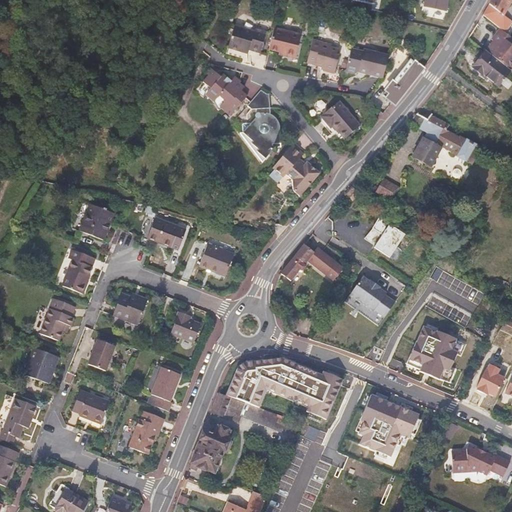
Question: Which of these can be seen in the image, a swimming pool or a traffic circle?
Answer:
traffic circle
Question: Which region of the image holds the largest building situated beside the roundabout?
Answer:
bottom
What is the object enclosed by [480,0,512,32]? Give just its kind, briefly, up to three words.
house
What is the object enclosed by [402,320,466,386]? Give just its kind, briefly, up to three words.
building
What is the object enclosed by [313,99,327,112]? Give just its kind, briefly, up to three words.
umbrella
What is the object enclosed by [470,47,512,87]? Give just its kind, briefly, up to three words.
house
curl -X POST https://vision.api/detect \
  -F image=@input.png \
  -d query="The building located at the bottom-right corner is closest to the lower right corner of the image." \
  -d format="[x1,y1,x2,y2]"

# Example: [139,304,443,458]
[452,442,512,481]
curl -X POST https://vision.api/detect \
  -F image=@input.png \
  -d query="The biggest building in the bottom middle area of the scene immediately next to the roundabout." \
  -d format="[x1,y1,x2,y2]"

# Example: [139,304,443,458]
[227,358,347,420]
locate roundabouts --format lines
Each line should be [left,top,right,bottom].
[222,300,274,351]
